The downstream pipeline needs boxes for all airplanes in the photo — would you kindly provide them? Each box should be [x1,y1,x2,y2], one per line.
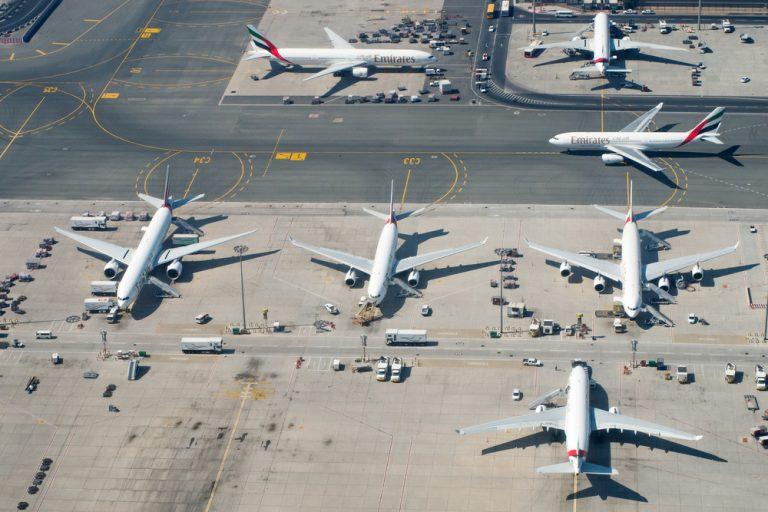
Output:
[289,181,488,305]
[456,366,704,478]
[52,164,260,309]
[245,25,434,81]
[550,98,728,168]
[526,180,740,320]
[520,15,690,73]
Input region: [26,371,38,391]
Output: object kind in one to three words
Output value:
vehicle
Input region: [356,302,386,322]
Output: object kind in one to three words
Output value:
work vehicle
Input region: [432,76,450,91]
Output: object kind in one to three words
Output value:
vehicle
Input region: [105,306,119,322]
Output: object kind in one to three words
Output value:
work vehicle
